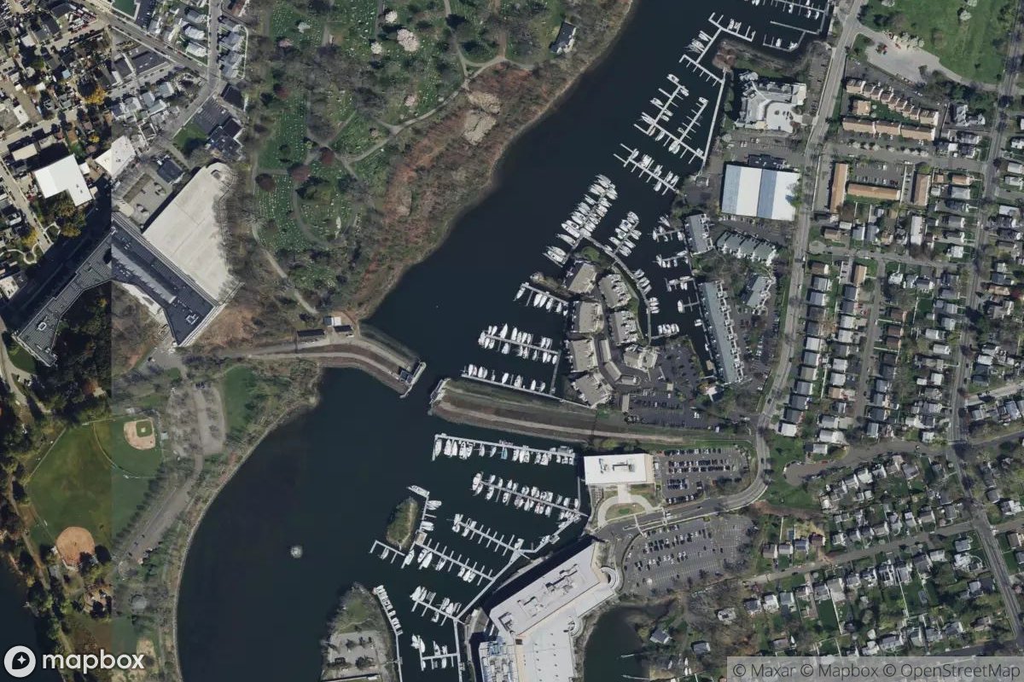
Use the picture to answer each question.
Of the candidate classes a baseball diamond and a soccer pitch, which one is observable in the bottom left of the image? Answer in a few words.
baseball diamond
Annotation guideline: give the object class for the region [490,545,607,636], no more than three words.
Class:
building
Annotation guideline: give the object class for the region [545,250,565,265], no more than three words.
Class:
boat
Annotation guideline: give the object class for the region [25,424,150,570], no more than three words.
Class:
baseball field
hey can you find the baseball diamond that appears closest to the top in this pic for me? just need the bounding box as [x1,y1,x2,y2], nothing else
[81,415,163,478]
